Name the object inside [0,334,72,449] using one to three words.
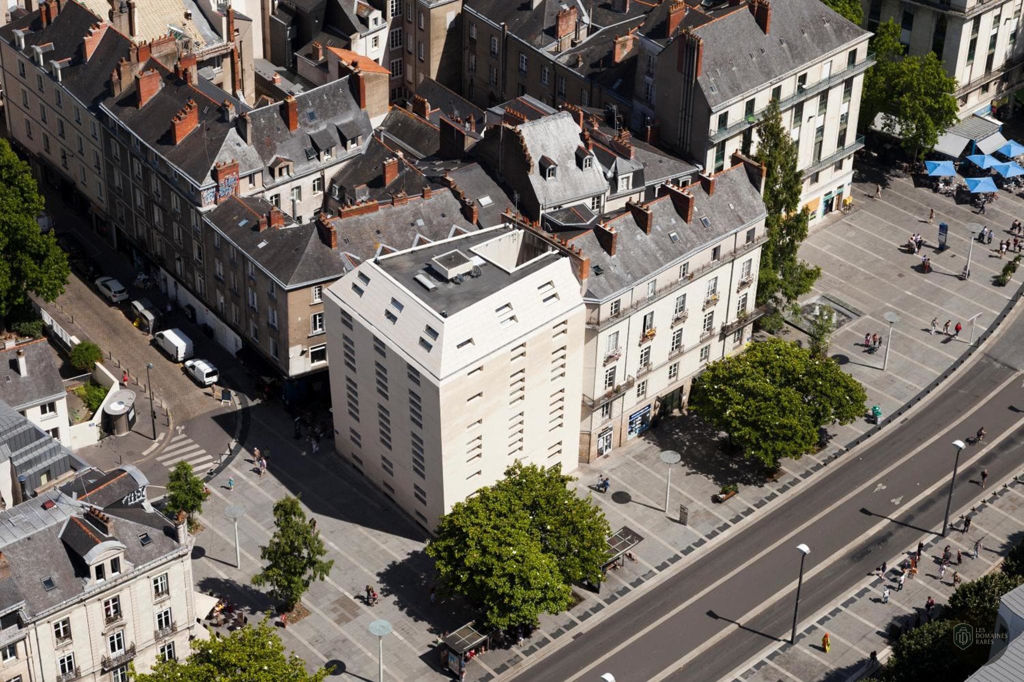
house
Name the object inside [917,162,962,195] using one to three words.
umbrella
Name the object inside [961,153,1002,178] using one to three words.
umbrella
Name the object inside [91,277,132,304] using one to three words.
car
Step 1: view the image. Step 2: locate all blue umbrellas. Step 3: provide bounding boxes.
[988,141,1024,164]
[917,162,962,195]
[961,153,1002,178]
[991,161,1024,195]
[958,178,1004,211]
